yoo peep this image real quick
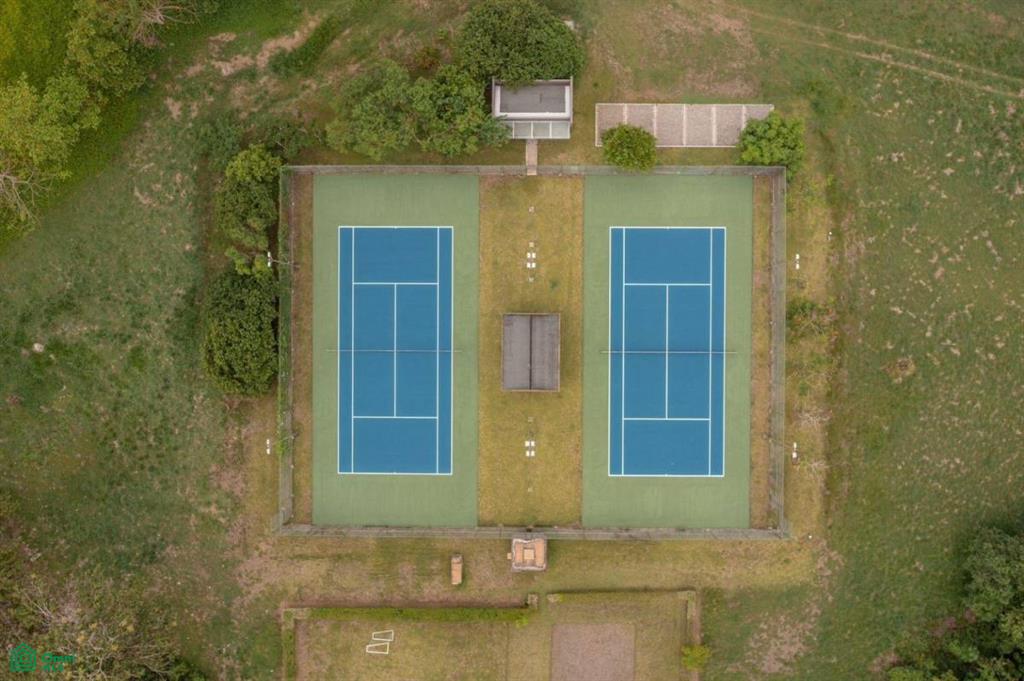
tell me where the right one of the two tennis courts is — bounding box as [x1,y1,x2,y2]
[582,174,753,528]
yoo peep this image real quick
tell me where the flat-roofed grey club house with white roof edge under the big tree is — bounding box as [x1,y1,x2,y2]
[492,76,572,139]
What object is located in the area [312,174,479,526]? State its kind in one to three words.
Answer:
tennis court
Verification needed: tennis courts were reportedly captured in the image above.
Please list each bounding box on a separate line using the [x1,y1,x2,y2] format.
[312,174,479,526]
[582,174,753,528]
